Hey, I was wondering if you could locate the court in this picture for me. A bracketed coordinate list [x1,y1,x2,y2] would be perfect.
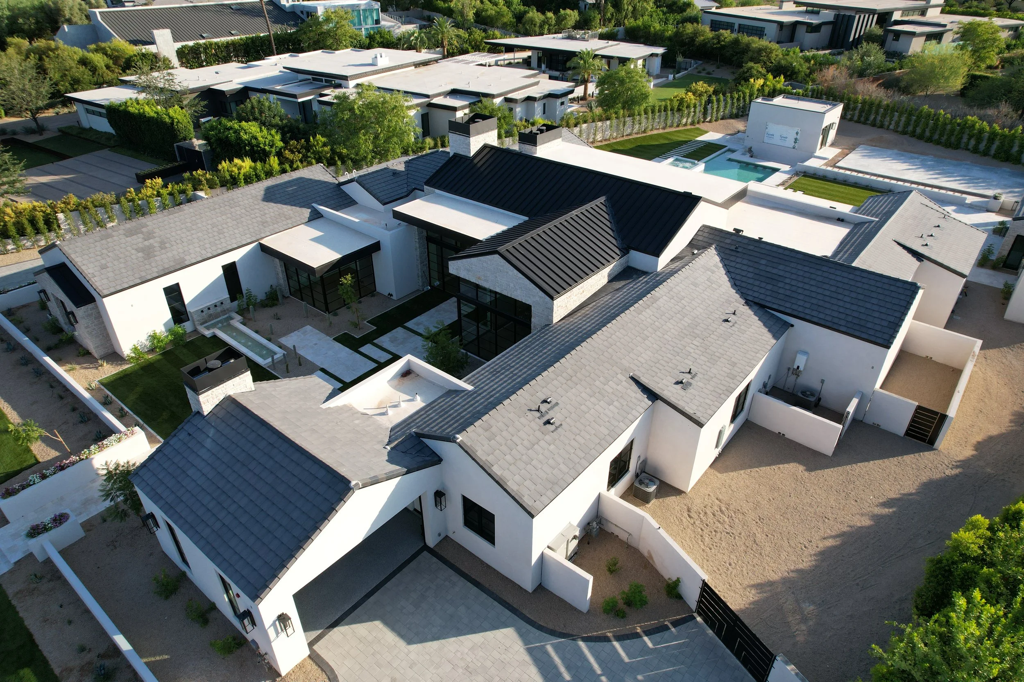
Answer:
[835,145,1024,202]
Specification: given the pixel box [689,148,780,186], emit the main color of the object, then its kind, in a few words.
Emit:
blue swimming pool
